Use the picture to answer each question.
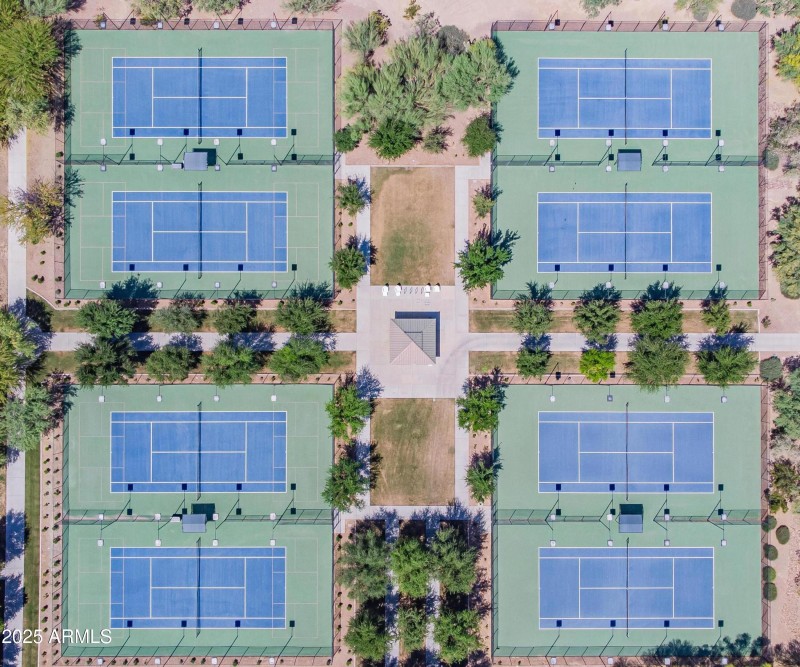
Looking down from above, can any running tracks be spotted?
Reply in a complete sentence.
No, I find no running track anywhere in the image.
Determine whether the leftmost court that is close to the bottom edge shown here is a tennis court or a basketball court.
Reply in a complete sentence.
I'd identify the leftmost court that is close to the bottom edge as a tennis court.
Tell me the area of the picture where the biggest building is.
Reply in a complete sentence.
You can find the biggest building in the center area of the picture.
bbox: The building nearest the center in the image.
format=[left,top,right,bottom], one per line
[390,319,436,365]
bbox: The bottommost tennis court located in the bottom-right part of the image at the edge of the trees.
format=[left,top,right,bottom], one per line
[492,521,761,656]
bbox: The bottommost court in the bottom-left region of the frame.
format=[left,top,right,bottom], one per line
[62,521,333,656]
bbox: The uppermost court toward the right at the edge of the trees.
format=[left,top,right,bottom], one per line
[491,31,759,165]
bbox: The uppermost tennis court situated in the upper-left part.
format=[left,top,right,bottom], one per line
[63,30,334,165]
